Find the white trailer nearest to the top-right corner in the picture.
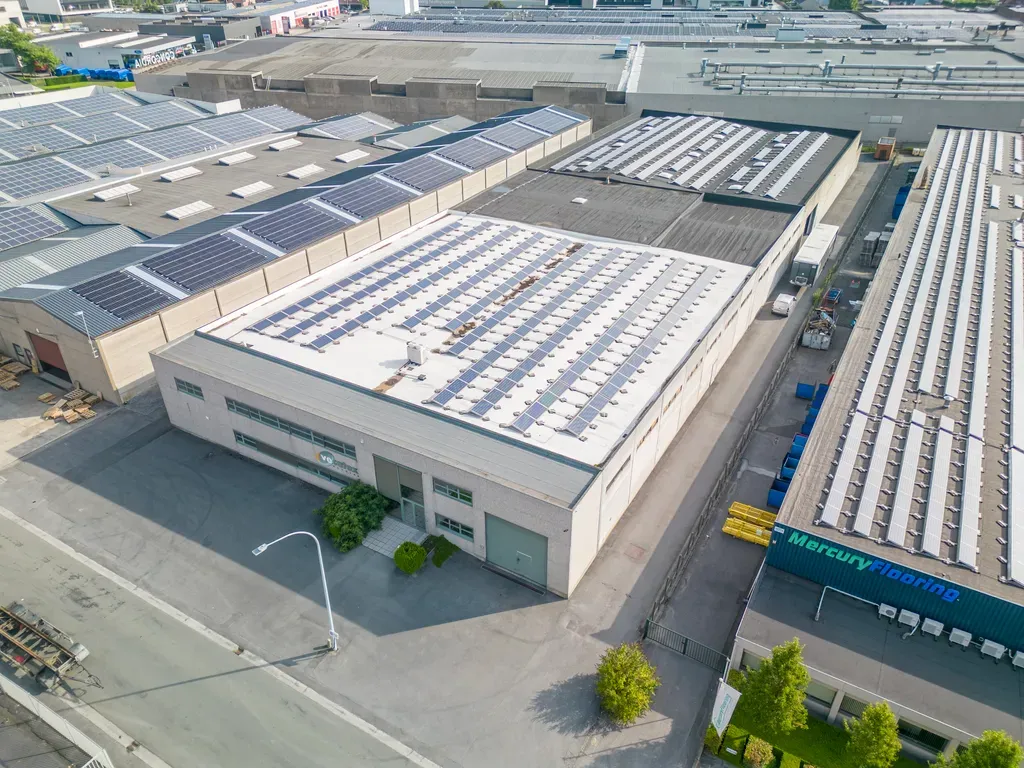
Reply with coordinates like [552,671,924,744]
[787,223,839,294]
